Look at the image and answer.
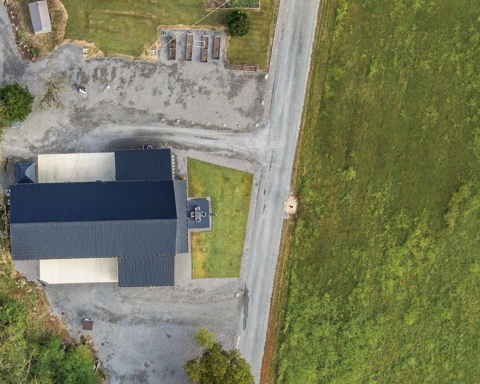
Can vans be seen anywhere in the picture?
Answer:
No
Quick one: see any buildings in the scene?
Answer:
Yes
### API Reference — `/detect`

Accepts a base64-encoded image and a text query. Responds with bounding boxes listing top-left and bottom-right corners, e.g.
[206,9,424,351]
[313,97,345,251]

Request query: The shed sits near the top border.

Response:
[29,0,52,36]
